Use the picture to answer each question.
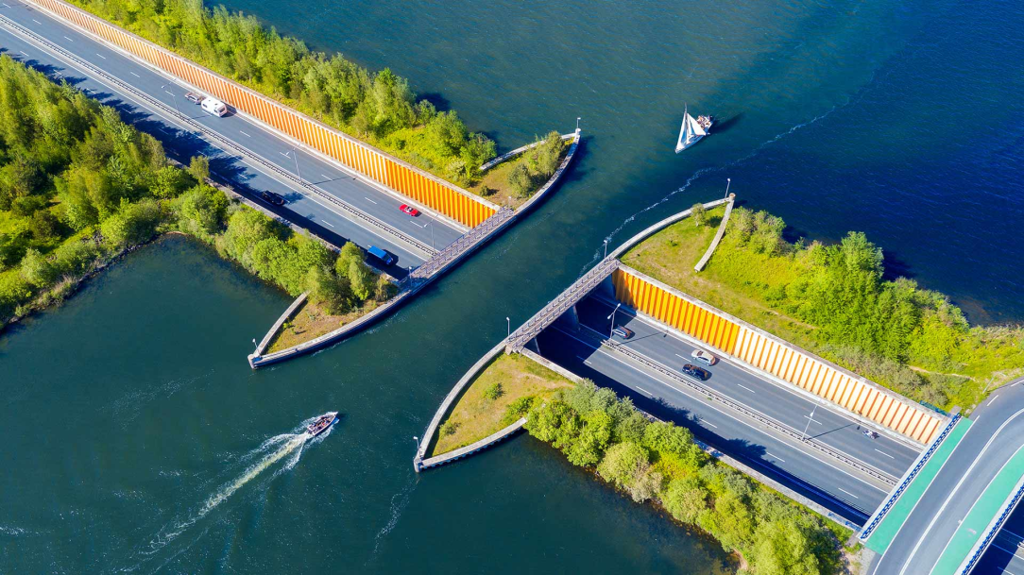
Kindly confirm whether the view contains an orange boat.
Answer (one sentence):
No, the photo shows no orange boat.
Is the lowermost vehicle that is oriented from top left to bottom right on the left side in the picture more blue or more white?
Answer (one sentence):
The lowermost vehicle that is oriented from top left to bottom right on the left side looks blue in the image.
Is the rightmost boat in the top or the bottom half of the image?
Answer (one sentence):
The rightmost boat sits in the top half of the picture.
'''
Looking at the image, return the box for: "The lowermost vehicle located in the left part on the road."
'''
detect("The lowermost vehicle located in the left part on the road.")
[365,240,396,266]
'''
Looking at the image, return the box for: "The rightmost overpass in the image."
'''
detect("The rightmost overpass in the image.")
[849,378,1024,575]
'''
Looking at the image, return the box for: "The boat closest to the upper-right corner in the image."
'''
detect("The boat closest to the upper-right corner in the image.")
[671,102,715,152]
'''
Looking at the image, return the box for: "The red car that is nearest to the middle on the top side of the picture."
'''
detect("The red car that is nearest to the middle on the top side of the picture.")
[399,204,419,217]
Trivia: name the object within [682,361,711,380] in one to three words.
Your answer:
car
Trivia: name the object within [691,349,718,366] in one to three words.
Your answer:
car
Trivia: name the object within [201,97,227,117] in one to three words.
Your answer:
camper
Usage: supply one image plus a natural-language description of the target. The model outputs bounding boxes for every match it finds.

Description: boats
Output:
[305,411,339,439]
[671,102,715,152]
